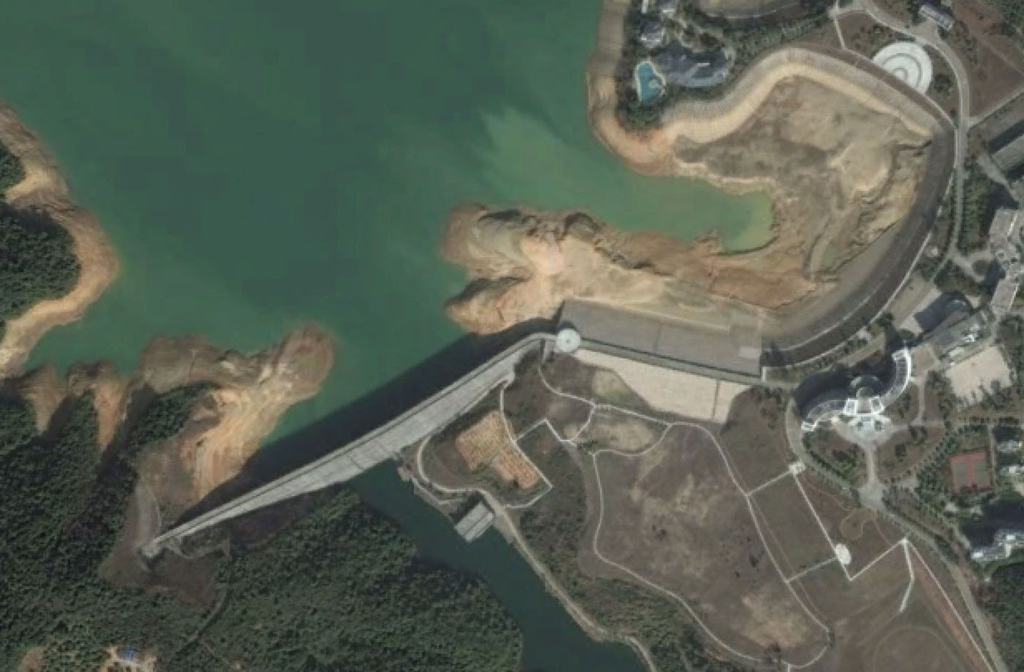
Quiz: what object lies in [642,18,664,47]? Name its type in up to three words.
house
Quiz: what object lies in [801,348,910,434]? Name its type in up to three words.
building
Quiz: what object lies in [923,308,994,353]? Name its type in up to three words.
building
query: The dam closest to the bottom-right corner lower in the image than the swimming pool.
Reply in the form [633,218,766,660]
[566,297,765,423]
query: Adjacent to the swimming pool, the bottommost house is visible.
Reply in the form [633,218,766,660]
[654,42,729,89]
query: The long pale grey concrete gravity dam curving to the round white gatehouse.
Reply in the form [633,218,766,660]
[151,333,557,548]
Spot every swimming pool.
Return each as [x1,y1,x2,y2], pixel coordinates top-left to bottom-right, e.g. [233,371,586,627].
[636,59,665,103]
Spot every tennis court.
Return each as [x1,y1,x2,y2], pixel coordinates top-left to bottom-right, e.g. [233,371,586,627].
[949,452,991,491]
